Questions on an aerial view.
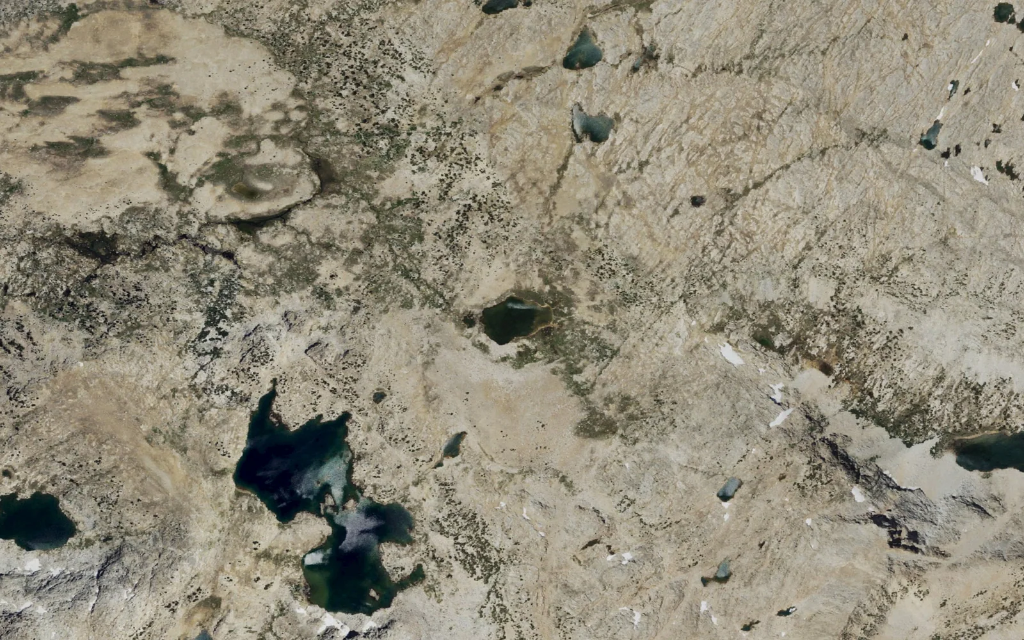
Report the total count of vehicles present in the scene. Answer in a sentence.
There are no vehicles in this view.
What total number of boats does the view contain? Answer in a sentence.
The photo contains no boats.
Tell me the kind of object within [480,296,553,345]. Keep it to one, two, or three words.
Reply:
pond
